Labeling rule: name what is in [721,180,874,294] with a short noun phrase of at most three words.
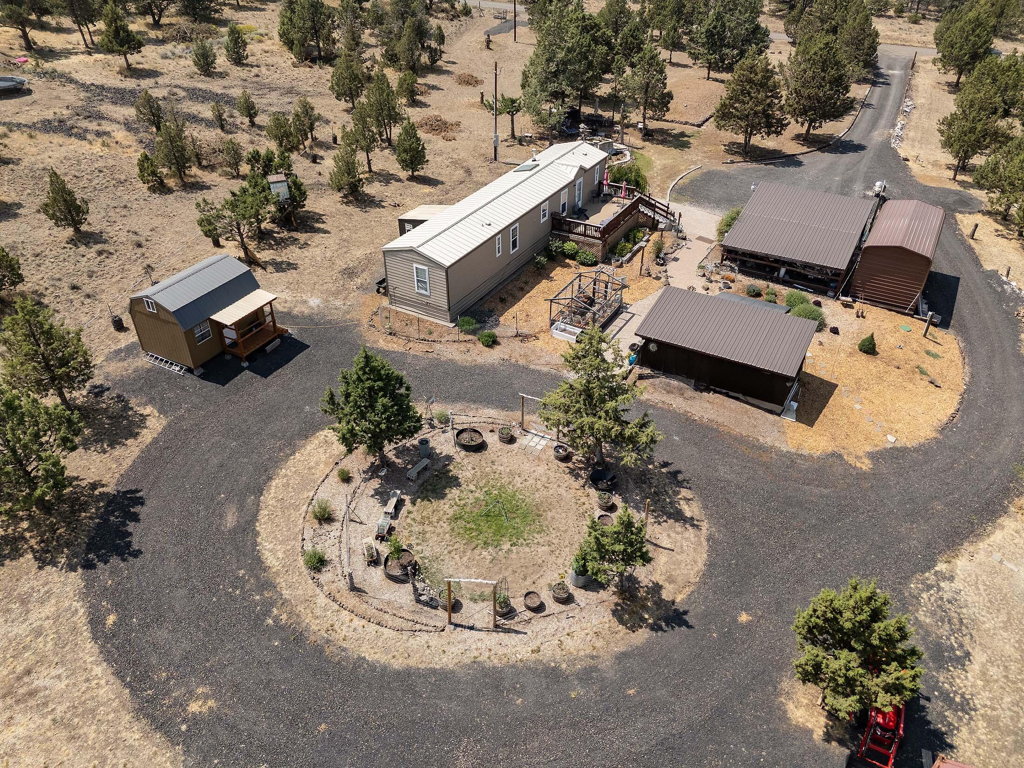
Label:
barn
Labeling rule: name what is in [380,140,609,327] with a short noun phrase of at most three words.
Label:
house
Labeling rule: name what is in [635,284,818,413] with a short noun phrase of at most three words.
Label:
shed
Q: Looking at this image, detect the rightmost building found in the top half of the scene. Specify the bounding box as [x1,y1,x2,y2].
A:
[846,198,944,327]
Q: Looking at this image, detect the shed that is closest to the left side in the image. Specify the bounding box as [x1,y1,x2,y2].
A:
[126,254,293,375]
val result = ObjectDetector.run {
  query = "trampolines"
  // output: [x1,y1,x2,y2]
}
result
[0,79,30,99]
